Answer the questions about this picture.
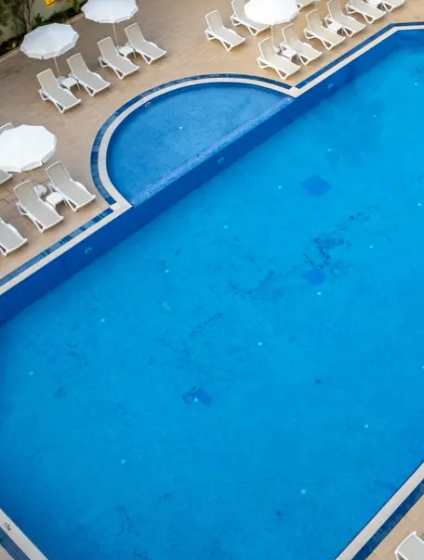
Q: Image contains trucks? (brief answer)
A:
No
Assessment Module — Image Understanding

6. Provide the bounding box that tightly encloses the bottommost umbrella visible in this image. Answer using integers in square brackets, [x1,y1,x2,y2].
[0,124,62,195]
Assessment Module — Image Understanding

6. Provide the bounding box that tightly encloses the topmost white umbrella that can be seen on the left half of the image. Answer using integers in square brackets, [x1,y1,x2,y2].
[77,0,138,51]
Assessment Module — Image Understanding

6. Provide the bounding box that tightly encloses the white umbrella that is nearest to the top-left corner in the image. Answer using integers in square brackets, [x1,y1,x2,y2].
[19,20,81,83]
